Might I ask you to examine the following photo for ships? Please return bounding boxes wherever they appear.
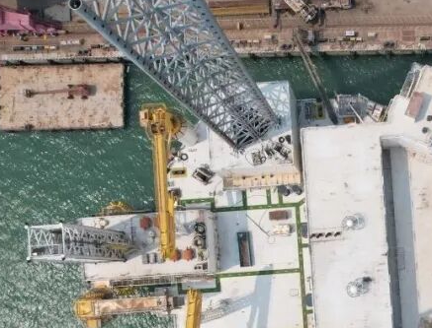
[23,0,432,328]
[0,61,128,132]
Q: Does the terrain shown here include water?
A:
Yes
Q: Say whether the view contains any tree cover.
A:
No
